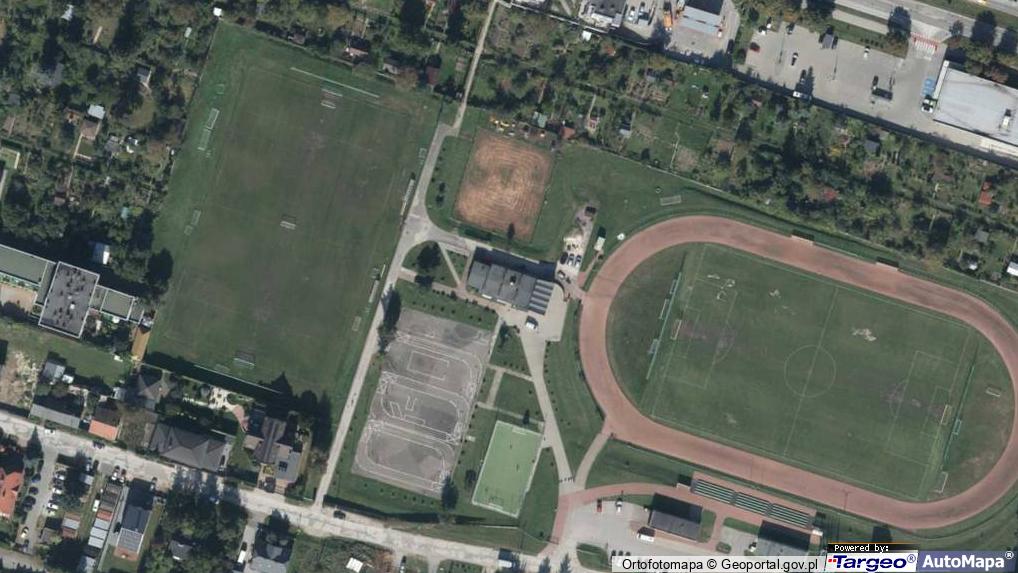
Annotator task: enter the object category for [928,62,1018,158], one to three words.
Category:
building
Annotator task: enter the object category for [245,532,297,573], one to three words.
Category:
house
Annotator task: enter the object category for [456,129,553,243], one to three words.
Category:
sports field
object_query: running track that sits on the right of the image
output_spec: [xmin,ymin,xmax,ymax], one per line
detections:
[580,216,1018,526]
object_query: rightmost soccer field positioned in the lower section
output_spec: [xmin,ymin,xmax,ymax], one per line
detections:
[606,242,1016,499]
